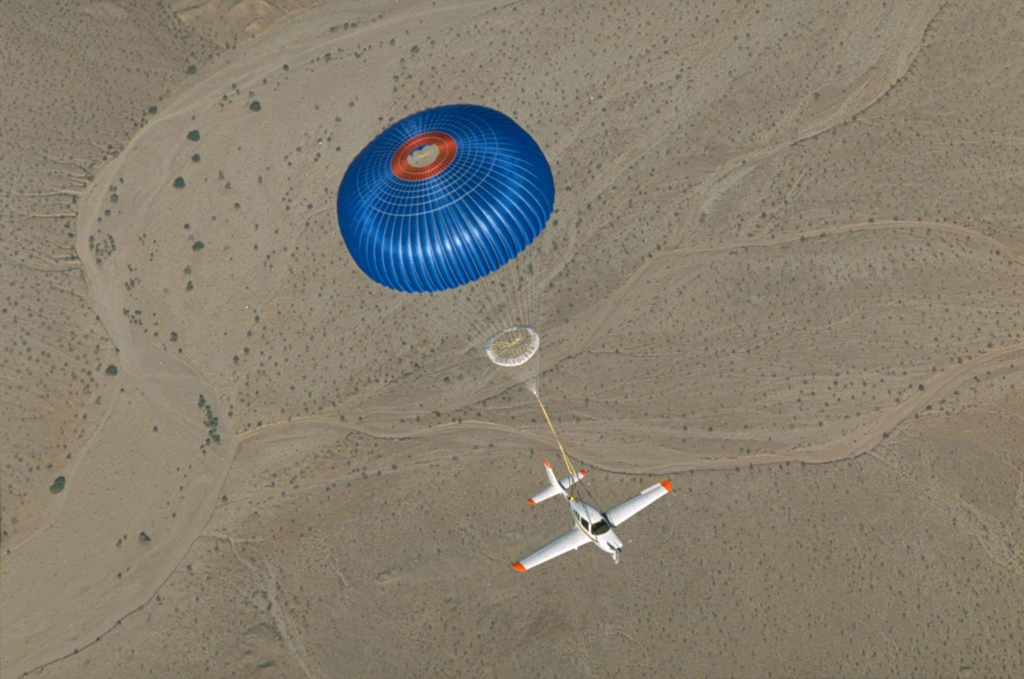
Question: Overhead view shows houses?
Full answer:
No, no house is visible in the scene.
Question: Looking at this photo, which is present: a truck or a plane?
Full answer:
This aerial view contains a plane.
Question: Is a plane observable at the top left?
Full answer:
No, no plane is visible at the top left.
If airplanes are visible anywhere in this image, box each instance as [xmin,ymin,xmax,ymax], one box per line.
[513,455,678,568]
